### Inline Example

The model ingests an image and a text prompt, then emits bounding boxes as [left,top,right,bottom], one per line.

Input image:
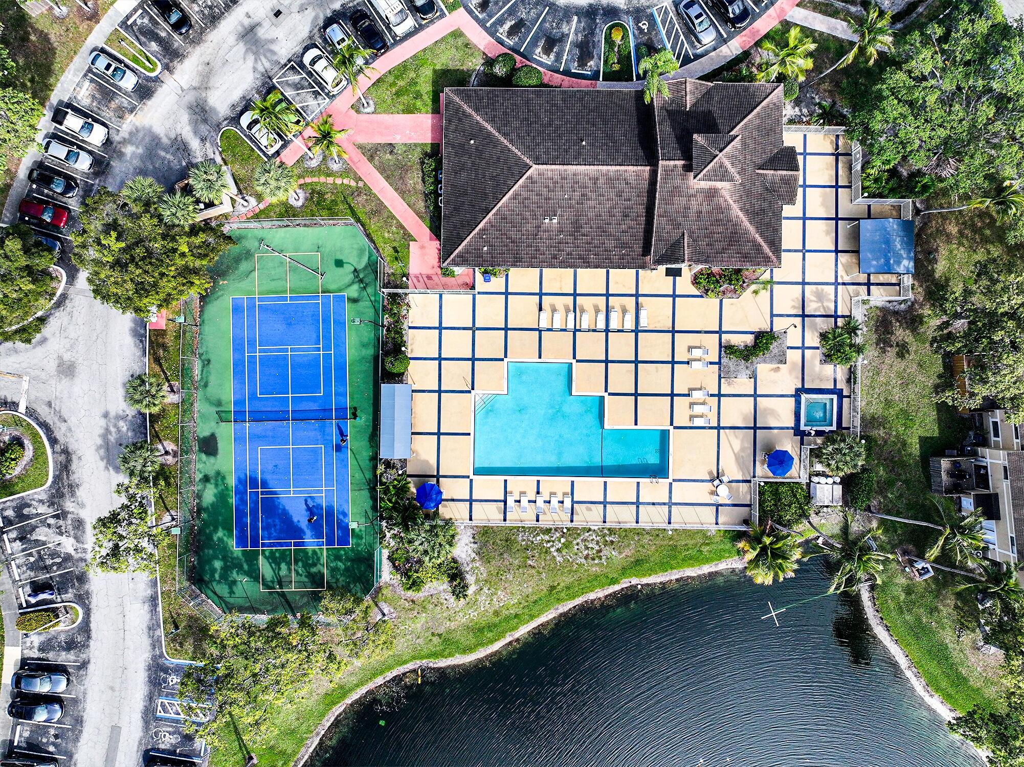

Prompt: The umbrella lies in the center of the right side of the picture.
[765,448,796,478]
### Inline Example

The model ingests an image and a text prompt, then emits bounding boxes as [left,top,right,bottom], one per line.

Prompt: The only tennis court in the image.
[196,225,383,615]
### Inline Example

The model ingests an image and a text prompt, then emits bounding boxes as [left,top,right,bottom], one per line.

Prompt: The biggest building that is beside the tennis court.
[441,74,806,276]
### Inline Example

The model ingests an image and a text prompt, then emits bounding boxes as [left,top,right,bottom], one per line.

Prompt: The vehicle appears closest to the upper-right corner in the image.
[708,0,747,36]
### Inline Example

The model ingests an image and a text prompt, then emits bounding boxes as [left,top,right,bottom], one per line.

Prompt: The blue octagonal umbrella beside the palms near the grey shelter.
[415,482,443,510]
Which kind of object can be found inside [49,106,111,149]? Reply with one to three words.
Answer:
vehicle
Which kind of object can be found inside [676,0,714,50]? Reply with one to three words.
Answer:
car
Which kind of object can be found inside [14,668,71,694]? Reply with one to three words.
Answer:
car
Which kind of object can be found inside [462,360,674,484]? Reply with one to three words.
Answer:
swimming pool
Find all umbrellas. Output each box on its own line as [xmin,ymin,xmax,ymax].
[765,448,796,478]
[415,482,443,510]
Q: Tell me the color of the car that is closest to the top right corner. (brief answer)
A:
black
